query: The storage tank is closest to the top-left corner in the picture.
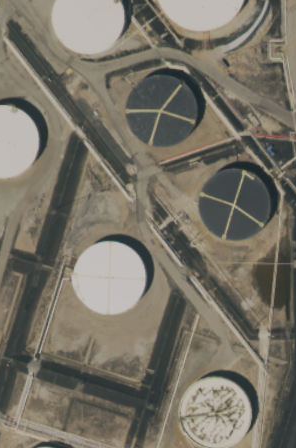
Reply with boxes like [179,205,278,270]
[51,0,125,56]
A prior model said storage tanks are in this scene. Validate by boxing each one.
[197,168,270,242]
[51,0,125,56]
[124,74,198,148]
[0,104,40,180]
[178,376,252,448]
[72,240,146,316]
[156,0,244,33]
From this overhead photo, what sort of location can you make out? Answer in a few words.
industrial area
